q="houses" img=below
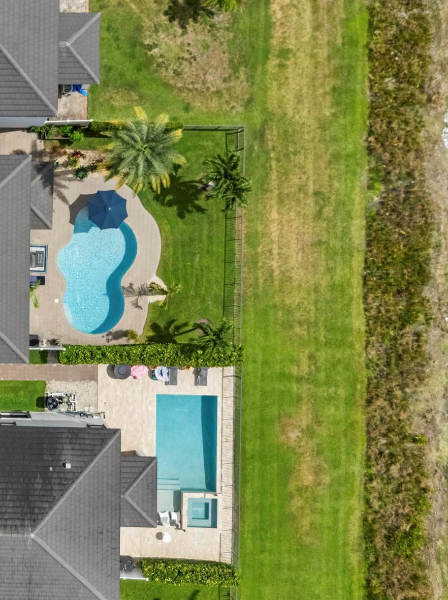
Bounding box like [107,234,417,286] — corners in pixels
[0,0,103,127]
[0,412,159,600]
[0,153,55,365]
